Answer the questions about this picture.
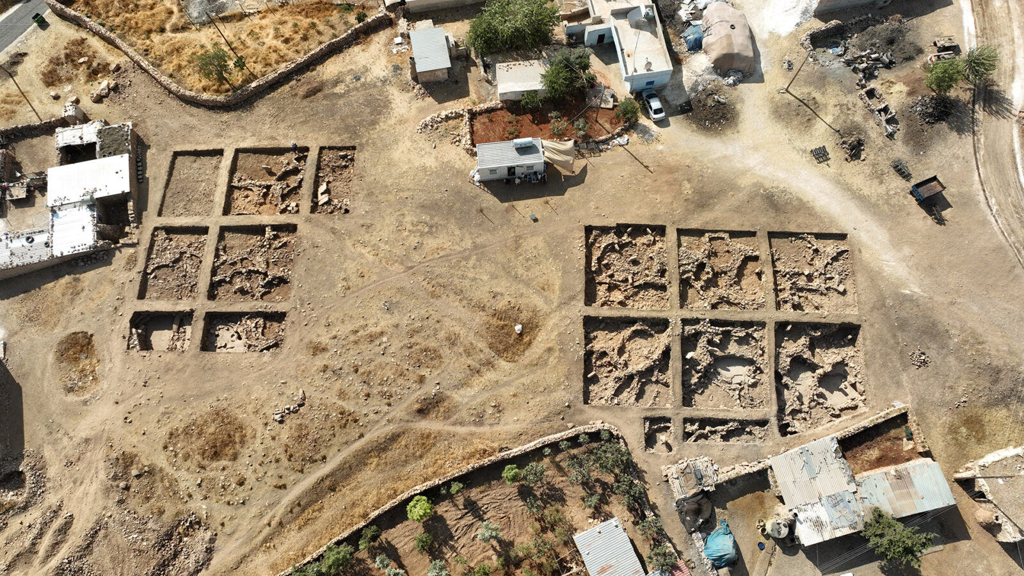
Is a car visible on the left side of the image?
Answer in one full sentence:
No, on the left side of the image there is no car.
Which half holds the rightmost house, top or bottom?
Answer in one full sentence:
Seen from above, the rightmost house lies in the bottom half of the view.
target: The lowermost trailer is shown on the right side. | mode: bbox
[907,175,946,221]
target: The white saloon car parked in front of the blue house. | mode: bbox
[640,86,668,120]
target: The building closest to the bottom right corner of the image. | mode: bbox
[963,439,1024,548]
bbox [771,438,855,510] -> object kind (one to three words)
barn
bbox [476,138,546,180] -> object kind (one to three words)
building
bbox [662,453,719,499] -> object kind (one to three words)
shed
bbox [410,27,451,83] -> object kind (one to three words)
shed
